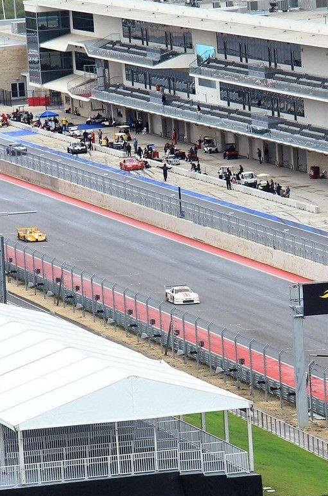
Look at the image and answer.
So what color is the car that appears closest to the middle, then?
white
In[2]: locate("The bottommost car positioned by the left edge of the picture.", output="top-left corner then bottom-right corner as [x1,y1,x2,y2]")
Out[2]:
[16,225,47,241]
